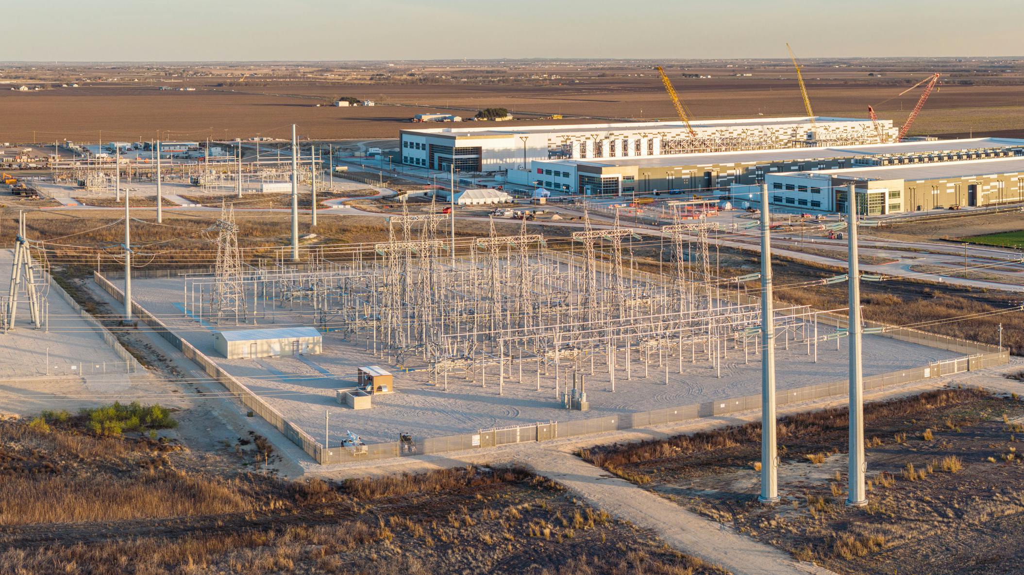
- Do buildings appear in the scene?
Yes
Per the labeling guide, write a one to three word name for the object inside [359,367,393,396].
shed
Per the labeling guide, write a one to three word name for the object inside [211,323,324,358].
building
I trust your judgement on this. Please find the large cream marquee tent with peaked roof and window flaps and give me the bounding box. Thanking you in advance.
[455,186,507,204]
